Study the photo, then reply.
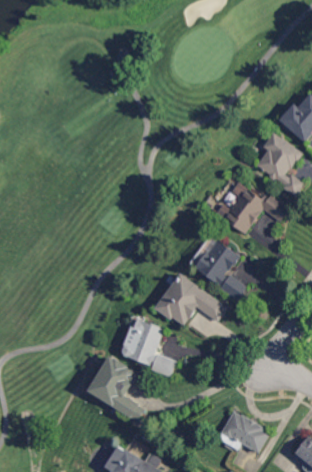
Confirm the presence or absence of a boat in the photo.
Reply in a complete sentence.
No, there is no boat in the image.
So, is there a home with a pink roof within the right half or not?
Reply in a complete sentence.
No, no home with a pink roof is visible within the right half.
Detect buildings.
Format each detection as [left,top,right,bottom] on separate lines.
[221,412,270,455]
[88,356,146,423]
[156,274,228,328]
[122,318,176,376]
[218,182,284,234]
[192,238,246,298]
[280,93,312,140]
[104,447,164,472]
[260,132,304,195]
[296,438,312,472]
